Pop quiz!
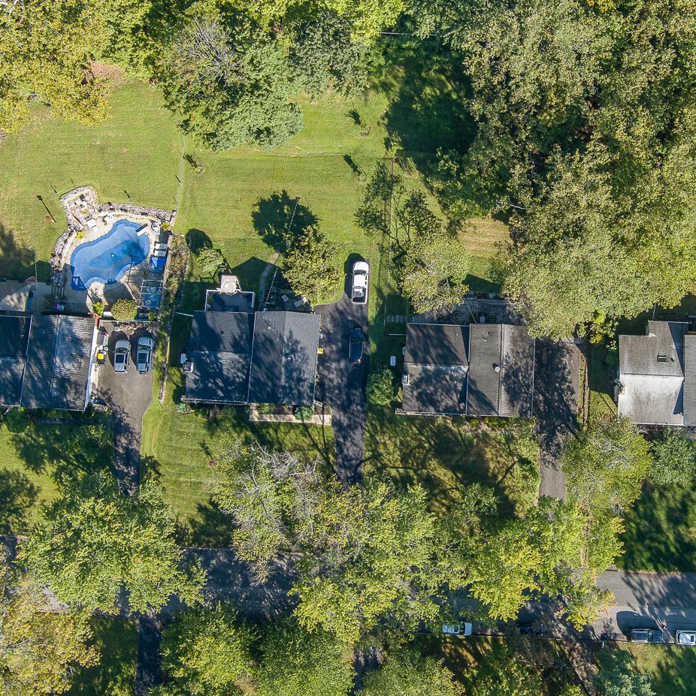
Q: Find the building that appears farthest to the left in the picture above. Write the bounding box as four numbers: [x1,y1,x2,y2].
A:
[0,313,107,413]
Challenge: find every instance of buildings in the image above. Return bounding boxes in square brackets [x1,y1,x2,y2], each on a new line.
[0,313,107,413]
[182,309,324,407]
[401,322,535,419]
[610,320,696,428]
